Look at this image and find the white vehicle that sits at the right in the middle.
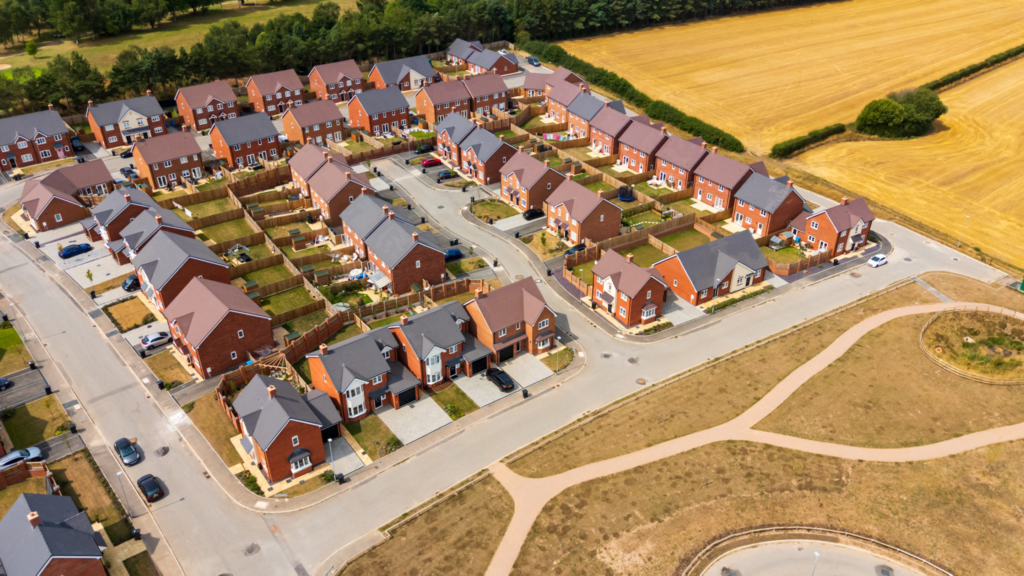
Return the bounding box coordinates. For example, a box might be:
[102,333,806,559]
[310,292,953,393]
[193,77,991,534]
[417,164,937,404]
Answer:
[865,254,890,269]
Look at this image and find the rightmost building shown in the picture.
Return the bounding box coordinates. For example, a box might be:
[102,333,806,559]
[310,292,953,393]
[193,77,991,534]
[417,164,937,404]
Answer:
[787,194,876,258]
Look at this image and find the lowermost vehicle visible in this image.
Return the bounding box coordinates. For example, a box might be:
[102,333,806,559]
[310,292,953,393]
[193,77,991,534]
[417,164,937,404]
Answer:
[137,474,165,506]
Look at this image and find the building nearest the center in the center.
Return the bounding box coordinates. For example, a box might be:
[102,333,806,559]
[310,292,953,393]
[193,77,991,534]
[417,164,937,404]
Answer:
[463,277,558,364]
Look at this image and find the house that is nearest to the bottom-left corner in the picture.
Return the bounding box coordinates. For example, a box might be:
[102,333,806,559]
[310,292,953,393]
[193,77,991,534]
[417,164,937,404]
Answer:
[0,493,108,576]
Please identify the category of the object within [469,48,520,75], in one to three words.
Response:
house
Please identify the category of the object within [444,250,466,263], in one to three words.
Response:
vehicle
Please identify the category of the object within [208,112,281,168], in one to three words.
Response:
house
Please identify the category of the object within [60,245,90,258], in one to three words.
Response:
vehicle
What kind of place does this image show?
residential area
